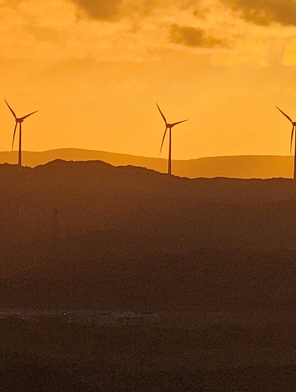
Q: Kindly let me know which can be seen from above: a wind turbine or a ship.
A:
wind turbine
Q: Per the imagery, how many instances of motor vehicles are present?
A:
none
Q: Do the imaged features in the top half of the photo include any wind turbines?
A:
Yes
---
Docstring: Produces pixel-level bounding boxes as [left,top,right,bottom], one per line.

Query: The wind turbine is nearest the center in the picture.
[155,103,187,175]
